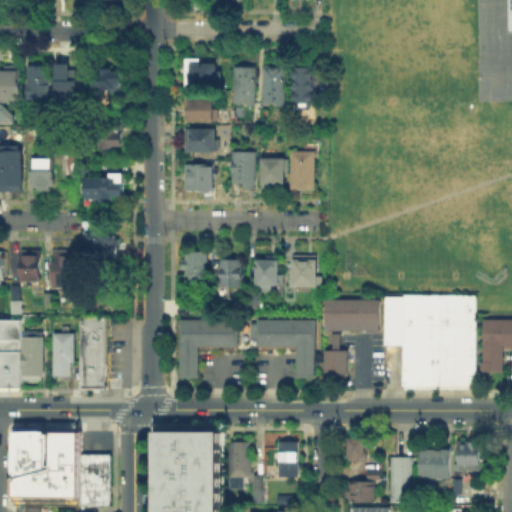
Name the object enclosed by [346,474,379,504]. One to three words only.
house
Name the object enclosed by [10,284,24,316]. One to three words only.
building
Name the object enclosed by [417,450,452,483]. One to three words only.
house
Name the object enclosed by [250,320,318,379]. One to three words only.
building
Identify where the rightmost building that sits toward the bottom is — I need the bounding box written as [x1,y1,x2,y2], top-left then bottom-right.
[480,319,512,374]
